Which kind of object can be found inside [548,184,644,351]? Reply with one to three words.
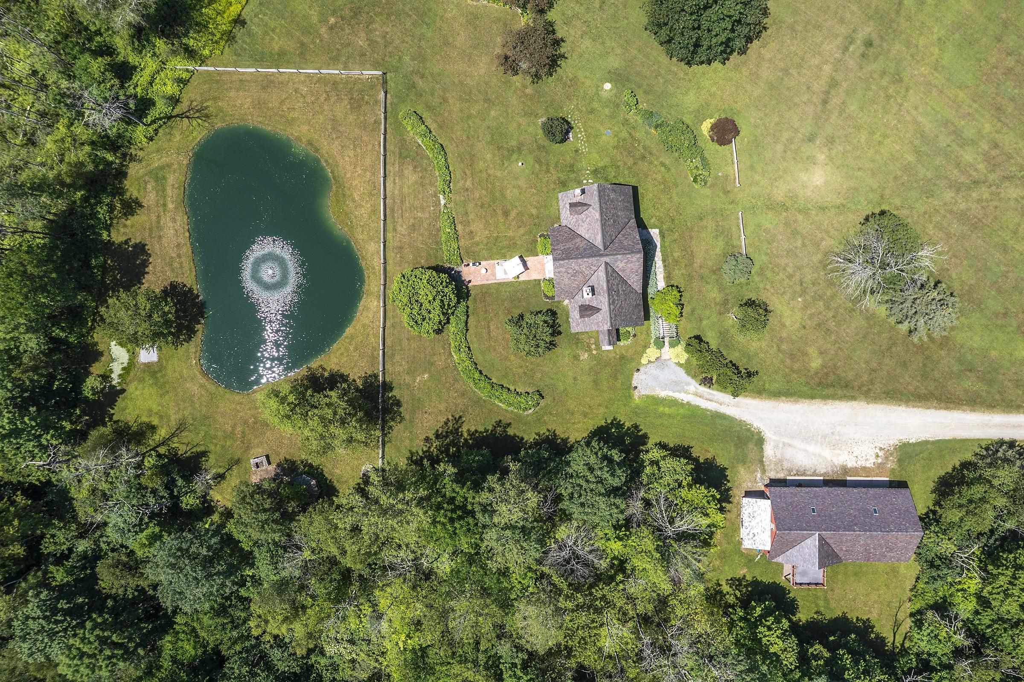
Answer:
house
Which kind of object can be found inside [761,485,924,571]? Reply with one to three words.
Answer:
barn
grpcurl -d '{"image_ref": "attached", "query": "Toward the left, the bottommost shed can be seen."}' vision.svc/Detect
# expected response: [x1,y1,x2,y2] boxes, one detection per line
[138,342,159,365]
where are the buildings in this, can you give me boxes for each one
[761,485,924,571]
[548,184,644,351]
[138,342,159,365]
